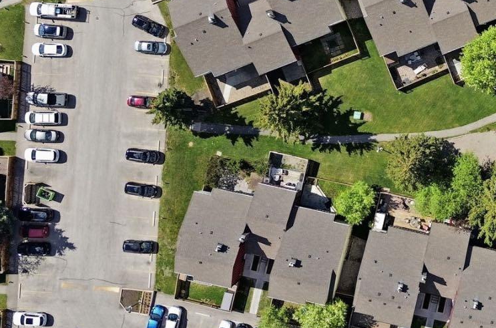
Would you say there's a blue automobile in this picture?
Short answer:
Yes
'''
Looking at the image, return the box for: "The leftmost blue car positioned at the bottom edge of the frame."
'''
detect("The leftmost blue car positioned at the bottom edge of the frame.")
[148,305,166,328]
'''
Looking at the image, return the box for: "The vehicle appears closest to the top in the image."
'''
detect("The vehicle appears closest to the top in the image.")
[33,1,77,19]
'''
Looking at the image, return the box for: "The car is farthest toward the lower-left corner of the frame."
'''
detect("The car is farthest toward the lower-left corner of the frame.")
[14,311,49,328]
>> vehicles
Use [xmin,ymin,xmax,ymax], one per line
[17,240,52,256]
[127,95,159,109]
[135,39,167,55]
[14,311,49,328]
[26,92,70,108]
[33,23,69,39]
[148,305,166,328]
[33,42,69,57]
[127,147,163,164]
[126,182,161,198]
[26,147,61,163]
[123,239,159,254]
[217,317,235,328]
[134,14,166,36]
[25,109,63,126]
[33,1,77,19]
[25,127,61,144]
[18,207,57,223]
[166,304,184,328]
